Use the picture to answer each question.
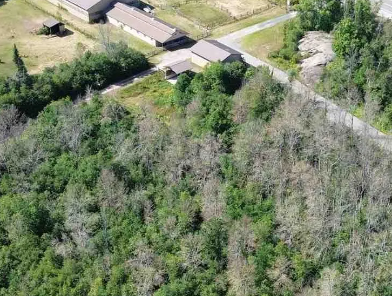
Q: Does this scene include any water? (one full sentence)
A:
No, the scene doesn't show any water.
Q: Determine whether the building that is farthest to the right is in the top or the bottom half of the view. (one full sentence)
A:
You can find the building that is farthest to the right in the top half.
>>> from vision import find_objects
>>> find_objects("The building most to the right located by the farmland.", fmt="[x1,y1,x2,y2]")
[190,38,243,70]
